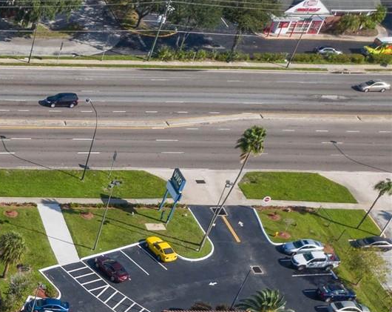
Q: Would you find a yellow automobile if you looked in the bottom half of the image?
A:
Yes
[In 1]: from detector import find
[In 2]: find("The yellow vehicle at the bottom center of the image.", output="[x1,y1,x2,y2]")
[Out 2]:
[142,233,184,258]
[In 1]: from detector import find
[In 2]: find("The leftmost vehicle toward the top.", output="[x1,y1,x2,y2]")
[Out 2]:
[43,91,79,107]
